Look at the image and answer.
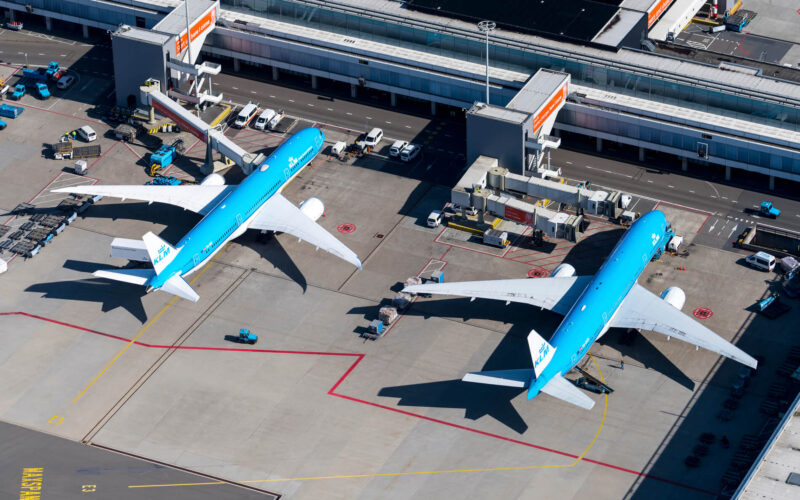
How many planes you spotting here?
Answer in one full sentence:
In total, there are 2 planes in the scene.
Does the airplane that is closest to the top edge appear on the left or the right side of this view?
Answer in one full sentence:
The airplane that is closest to the top edge is on the left side of the image.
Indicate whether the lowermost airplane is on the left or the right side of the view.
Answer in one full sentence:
The lowermost airplane appears in the right half of the scene.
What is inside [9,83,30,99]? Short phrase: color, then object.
blue work vehicle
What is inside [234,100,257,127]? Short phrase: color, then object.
white vehicle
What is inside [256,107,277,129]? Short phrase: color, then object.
white vehicle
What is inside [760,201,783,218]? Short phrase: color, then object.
blue work vehicle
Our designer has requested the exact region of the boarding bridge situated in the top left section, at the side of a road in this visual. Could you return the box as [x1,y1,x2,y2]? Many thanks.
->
[140,73,269,177]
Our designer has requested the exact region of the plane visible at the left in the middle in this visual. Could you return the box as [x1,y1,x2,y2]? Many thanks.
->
[52,132,361,302]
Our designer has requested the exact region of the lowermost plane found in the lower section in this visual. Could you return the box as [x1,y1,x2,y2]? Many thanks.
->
[400,218,757,409]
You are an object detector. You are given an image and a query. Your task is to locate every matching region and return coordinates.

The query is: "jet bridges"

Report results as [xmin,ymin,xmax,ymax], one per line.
[485,166,626,223]
[466,187,586,250]
[140,73,269,177]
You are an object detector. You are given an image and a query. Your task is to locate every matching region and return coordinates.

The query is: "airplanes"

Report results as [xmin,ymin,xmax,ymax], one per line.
[400,218,757,409]
[52,132,361,302]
